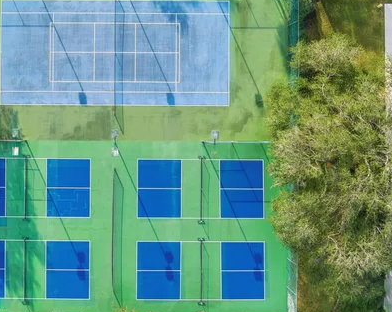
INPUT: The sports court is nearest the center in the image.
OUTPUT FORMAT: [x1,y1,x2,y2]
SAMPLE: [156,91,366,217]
[138,159,264,219]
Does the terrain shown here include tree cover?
Yes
